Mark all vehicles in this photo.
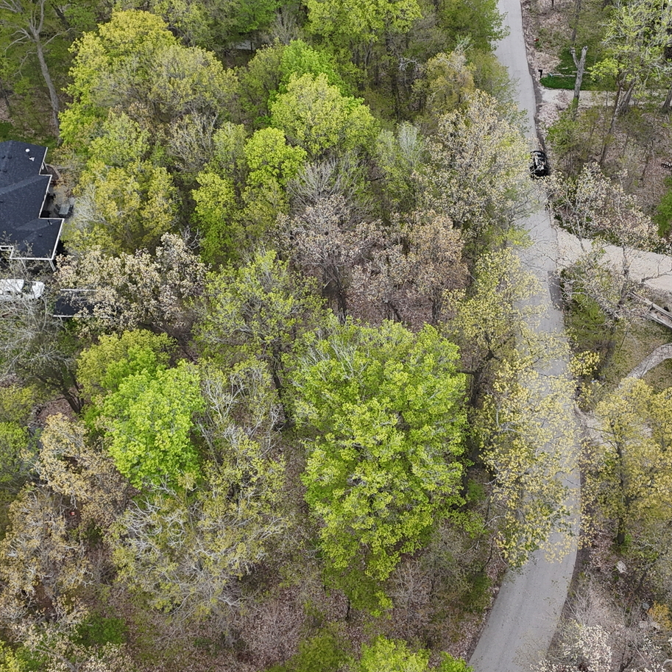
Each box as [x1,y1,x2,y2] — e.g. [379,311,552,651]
[0,275,44,298]
[532,144,551,174]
